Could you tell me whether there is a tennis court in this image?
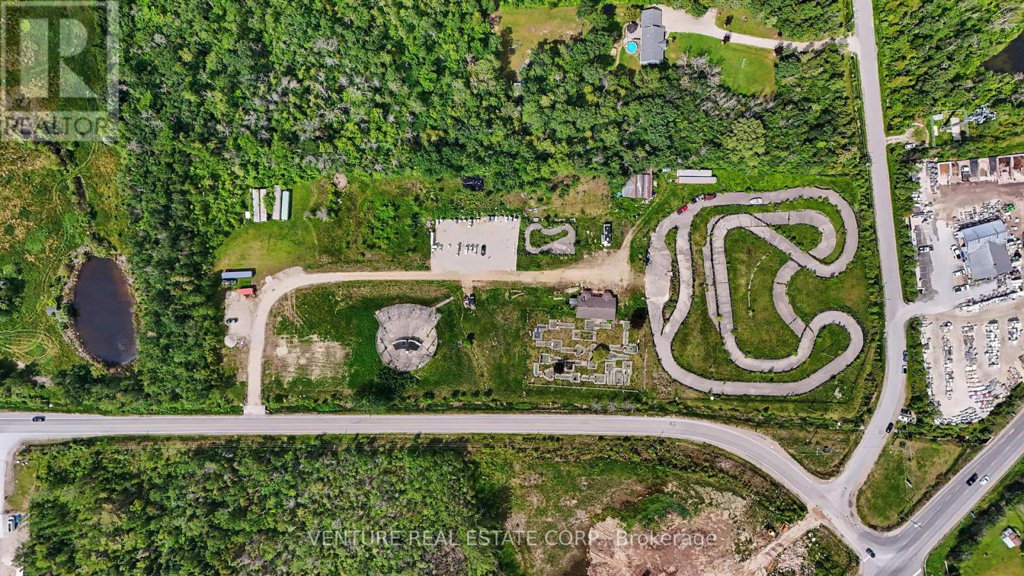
No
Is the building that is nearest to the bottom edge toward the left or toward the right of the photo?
right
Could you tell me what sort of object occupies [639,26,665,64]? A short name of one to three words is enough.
house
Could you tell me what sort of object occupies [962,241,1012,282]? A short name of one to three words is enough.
building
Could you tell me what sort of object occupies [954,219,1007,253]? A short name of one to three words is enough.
building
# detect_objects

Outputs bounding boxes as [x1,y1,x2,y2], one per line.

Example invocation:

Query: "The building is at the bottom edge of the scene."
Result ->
[995,524,1022,548]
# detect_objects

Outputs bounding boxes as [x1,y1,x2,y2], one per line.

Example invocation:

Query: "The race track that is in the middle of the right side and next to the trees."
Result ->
[653,186,863,396]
